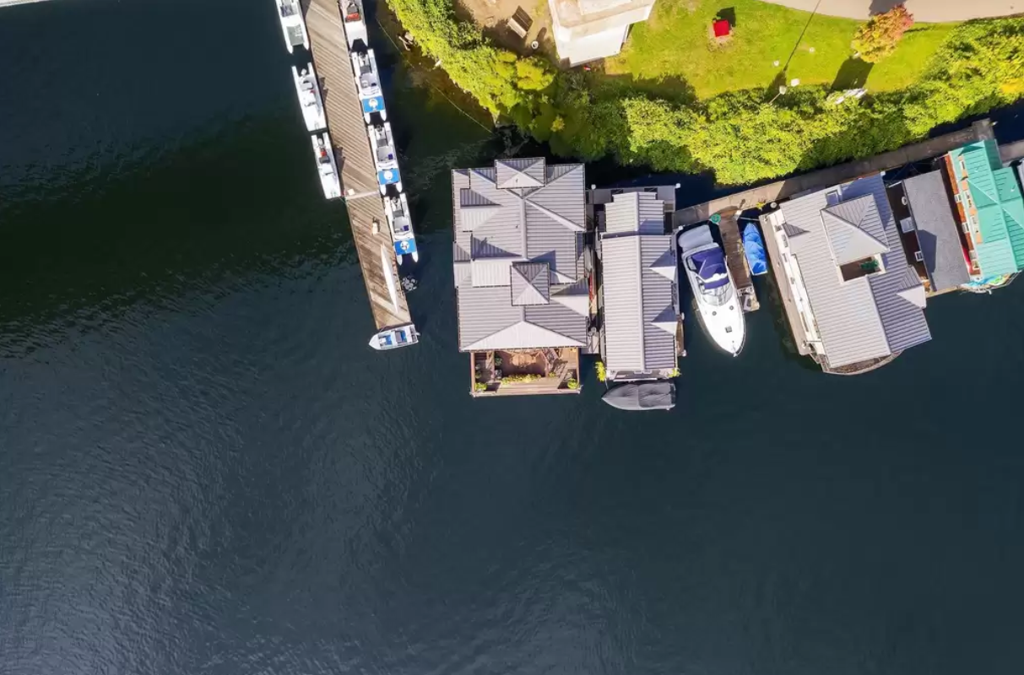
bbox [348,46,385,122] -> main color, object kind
white boat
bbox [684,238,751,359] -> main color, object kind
white boat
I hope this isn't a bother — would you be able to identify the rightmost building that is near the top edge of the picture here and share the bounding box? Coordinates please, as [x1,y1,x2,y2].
[547,0,665,68]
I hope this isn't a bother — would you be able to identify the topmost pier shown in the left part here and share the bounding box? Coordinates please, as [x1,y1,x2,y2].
[298,0,414,332]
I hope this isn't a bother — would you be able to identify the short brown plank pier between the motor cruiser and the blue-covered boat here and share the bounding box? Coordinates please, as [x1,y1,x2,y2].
[718,213,759,310]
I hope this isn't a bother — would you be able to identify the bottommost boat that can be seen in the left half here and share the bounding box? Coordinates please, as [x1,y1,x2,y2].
[368,325,421,348]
